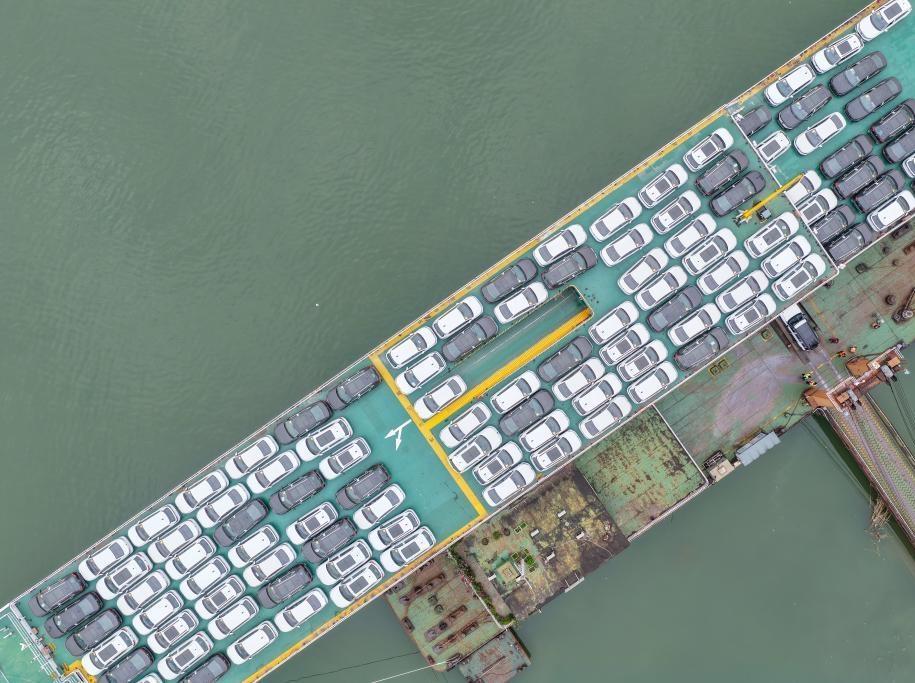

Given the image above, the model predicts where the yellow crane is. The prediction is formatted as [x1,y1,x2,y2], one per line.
[729,176,804,229]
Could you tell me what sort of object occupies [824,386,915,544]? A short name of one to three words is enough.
bridge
